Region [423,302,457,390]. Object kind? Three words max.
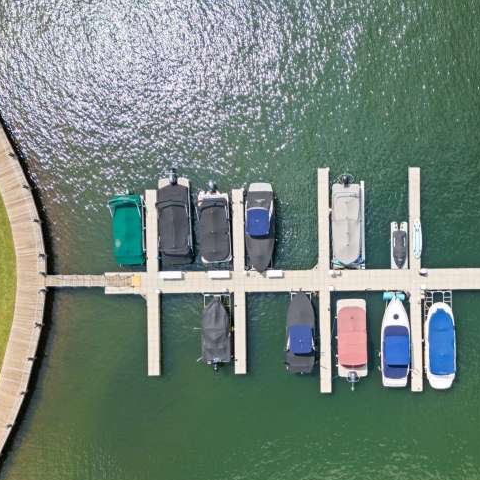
boat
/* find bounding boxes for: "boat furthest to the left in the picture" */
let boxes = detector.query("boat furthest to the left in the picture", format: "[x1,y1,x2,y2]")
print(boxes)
[106,188,147,267]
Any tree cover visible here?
No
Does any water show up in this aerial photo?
Yes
